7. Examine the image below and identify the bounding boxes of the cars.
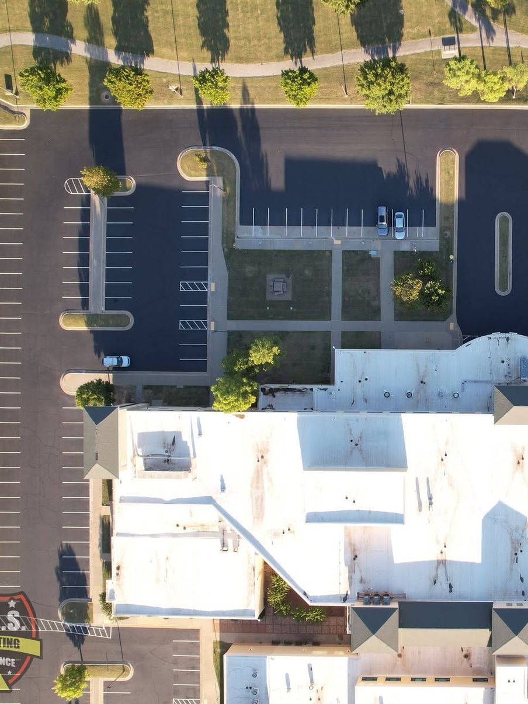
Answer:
[394,211,406,239]
[377,208,388,235]
[102,355,131,368]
